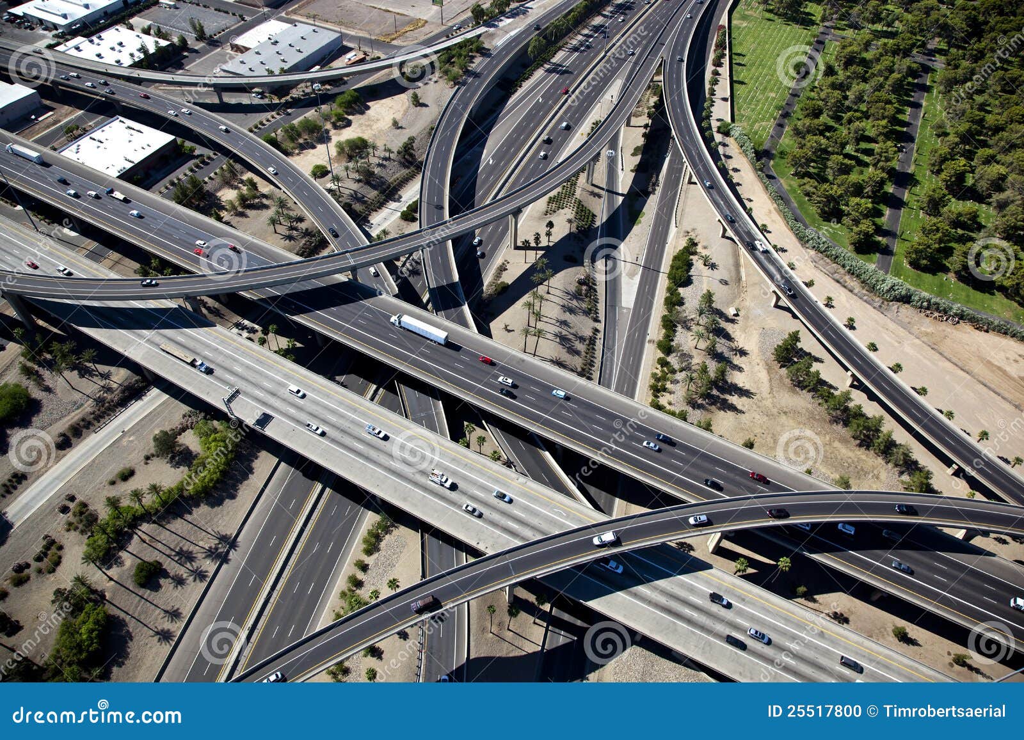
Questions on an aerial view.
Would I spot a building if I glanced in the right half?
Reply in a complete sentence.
No, I see no building in the right half.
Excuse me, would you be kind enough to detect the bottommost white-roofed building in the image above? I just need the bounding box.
[59,115,178,185]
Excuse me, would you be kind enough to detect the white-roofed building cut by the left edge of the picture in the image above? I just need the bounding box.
[0,81,44,127]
